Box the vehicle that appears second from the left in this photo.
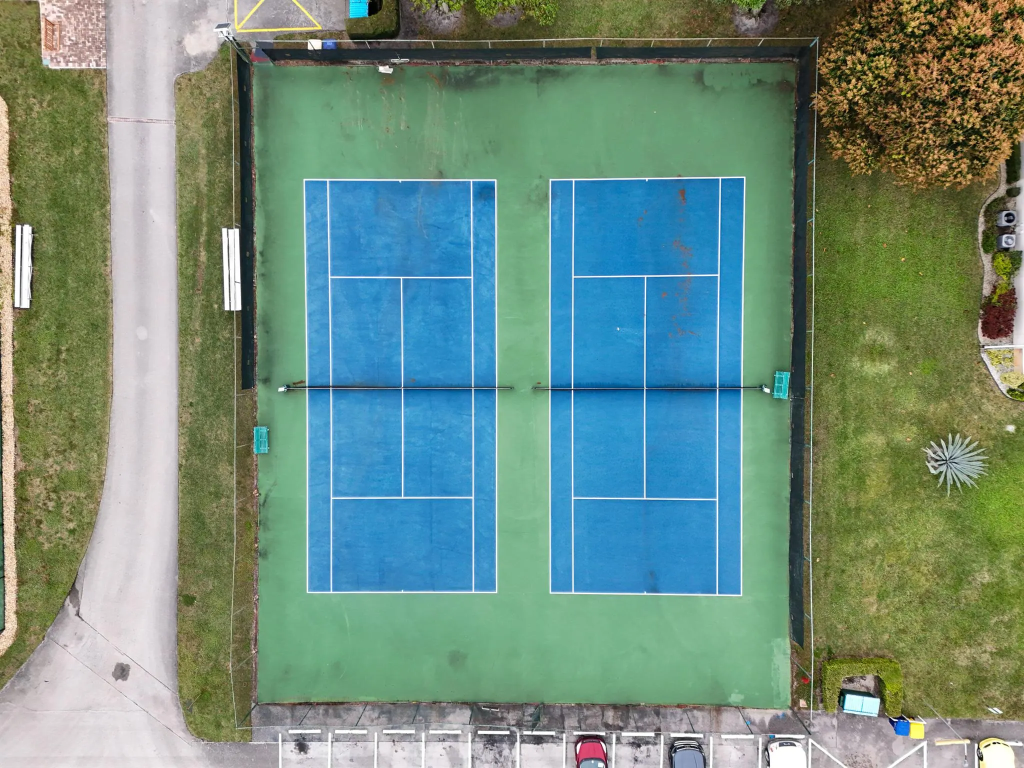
[669,739,705,768]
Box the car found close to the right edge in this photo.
[975,736,1017,768]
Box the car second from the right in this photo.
[767,738,805,768]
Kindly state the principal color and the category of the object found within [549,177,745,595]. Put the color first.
blue tennis court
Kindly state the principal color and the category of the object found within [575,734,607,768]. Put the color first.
red car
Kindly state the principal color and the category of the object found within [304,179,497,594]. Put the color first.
blue tennis court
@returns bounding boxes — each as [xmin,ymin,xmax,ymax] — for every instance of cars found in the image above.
[575,734,607,768]
[669,739,705,768]
[767,738,805,768]
[975,736,1017,768]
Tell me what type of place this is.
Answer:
sports ground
